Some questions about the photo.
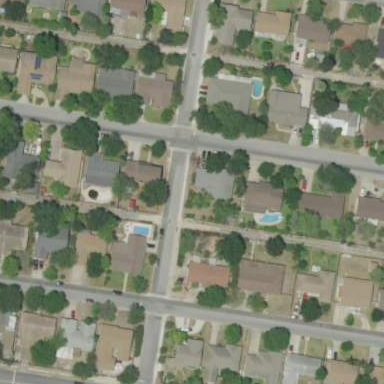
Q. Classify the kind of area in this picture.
residential area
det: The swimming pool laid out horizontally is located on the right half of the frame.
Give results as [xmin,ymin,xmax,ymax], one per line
[255,212,283,225]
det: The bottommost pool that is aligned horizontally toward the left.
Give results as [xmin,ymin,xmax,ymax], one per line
[126,222,156,236]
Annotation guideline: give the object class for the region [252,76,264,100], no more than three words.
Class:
swimming pool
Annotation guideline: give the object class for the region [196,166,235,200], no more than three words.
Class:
house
